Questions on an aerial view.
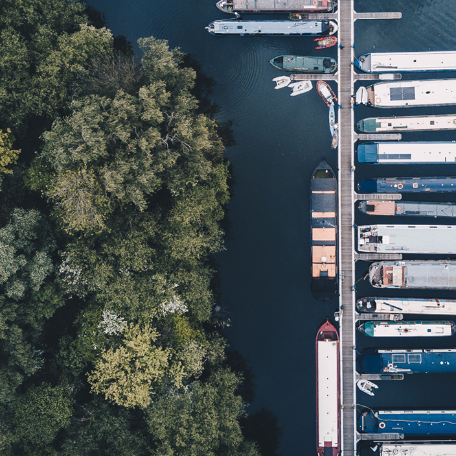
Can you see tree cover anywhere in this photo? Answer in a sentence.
Yes, there is tree cover in the image.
